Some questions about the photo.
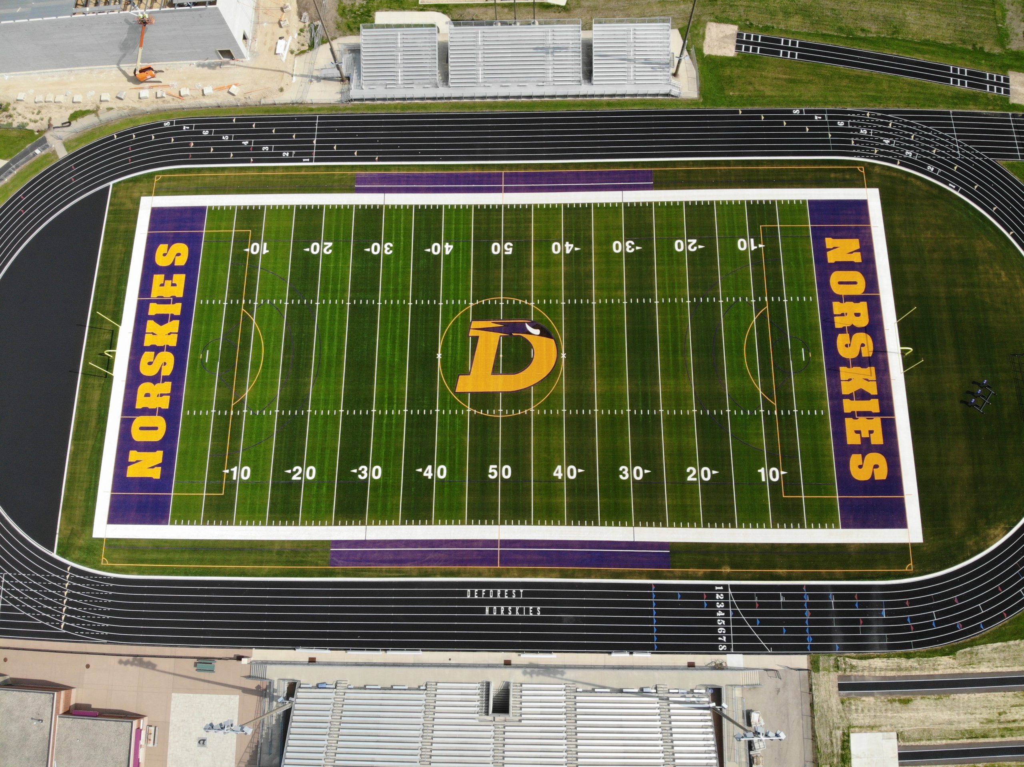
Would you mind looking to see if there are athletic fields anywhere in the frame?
Yes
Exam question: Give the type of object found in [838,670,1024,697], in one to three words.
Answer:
runway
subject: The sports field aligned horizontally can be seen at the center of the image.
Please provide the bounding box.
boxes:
[169,200,839,528]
